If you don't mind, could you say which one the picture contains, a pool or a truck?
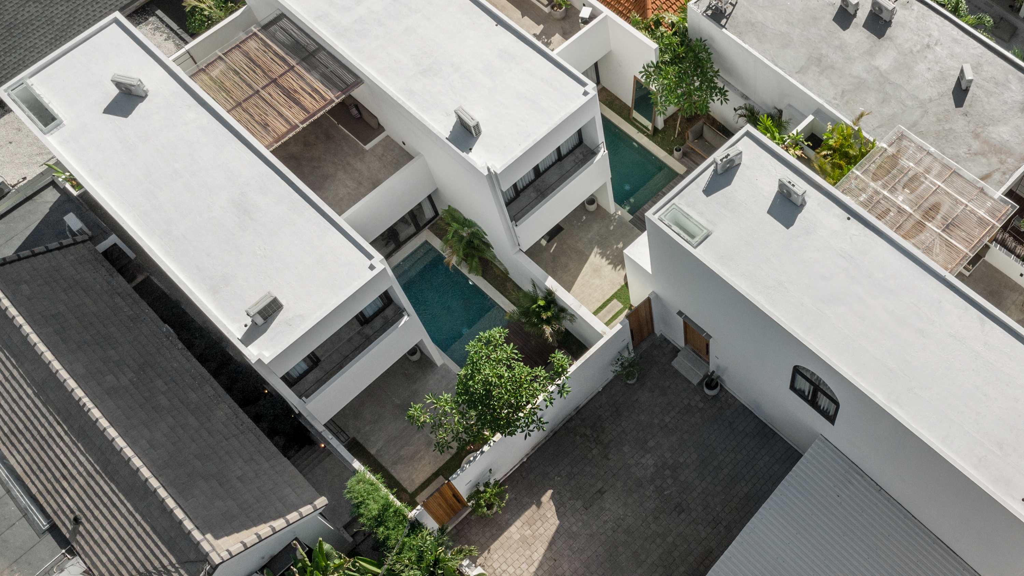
pool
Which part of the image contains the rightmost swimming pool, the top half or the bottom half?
top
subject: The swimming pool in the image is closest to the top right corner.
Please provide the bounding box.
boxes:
[599,103,688,221]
